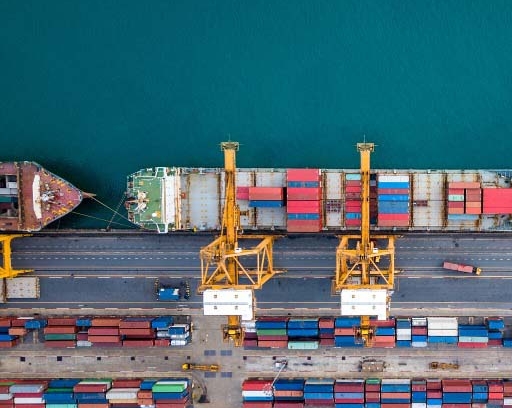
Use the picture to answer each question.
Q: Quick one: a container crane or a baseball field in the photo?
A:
container crane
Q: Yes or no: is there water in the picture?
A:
Yes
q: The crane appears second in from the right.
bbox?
[195,133,288,342]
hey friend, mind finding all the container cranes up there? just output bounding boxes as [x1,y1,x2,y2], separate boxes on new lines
[0,237,32,281]
[195,133,288,342]
[330,133,409,342]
